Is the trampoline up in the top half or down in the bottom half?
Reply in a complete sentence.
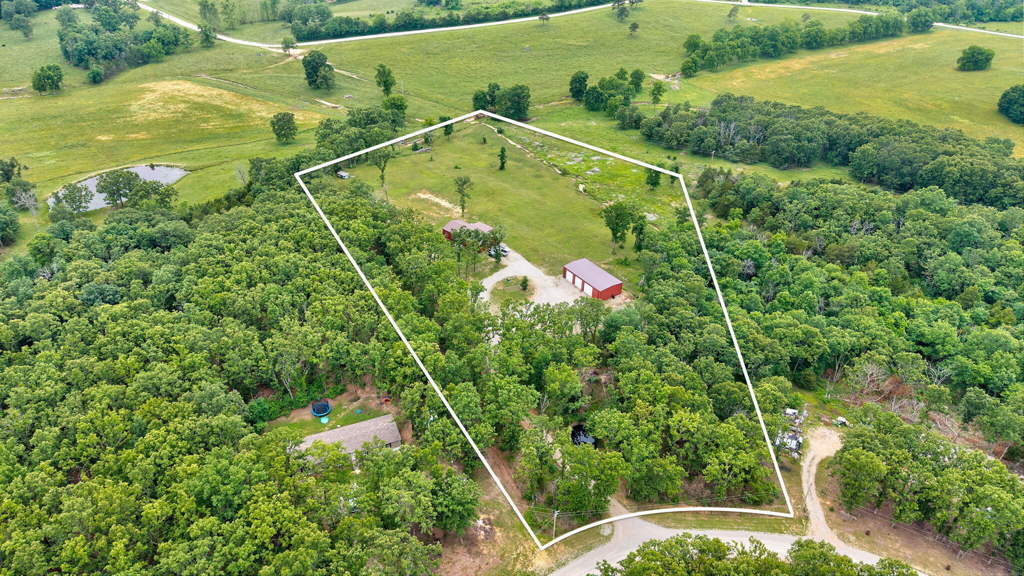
The trampoline sits in the bottom half of the picture.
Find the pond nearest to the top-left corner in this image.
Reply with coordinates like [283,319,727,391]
[46,165,190,212]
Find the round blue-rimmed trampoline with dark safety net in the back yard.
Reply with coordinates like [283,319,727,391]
[310,395,331,415]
